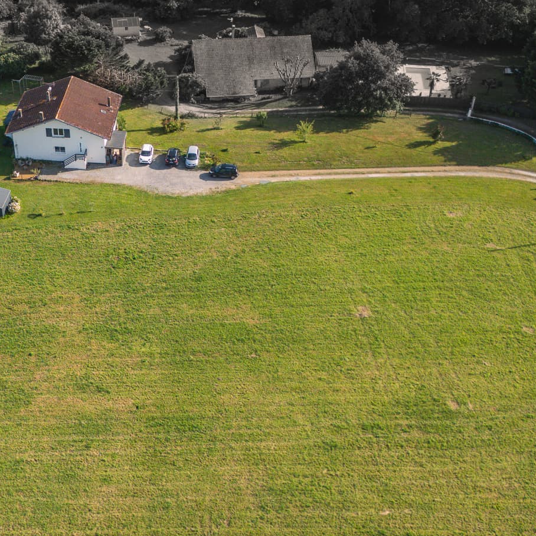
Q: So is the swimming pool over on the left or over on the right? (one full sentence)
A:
The swimming pool appears in the right half of the scene.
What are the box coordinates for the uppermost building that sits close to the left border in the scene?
[4,76,128,166]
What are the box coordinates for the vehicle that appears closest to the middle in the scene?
[207,161,240,178]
